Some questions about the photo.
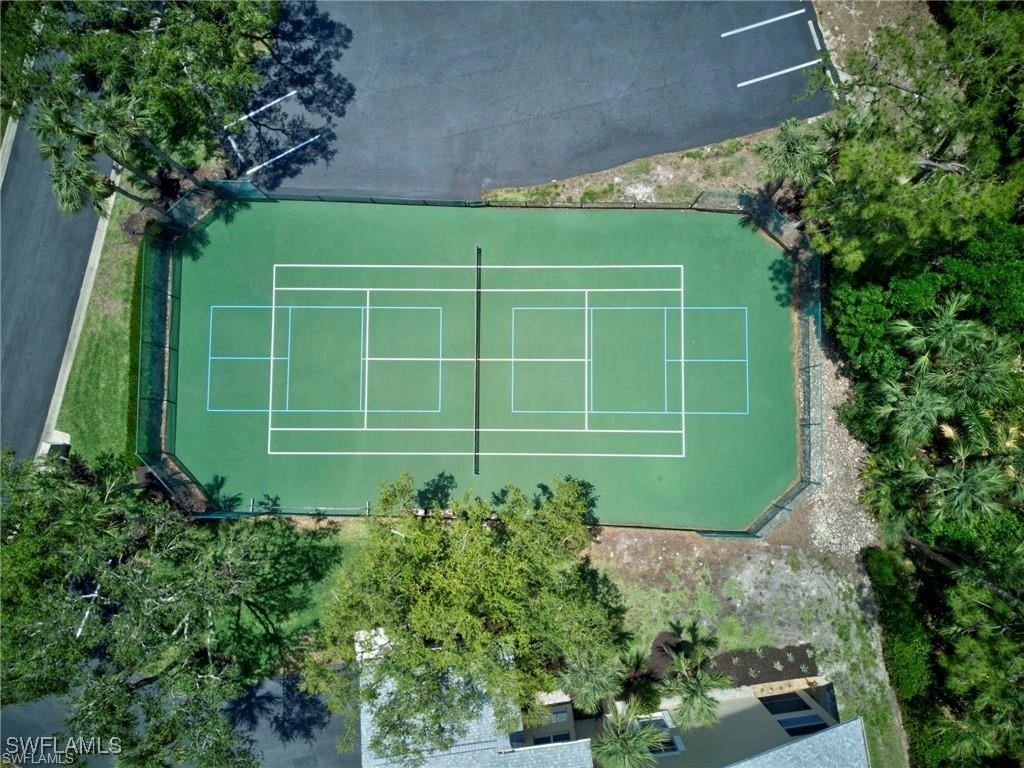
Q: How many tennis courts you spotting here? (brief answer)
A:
one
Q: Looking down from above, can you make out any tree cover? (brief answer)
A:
Yes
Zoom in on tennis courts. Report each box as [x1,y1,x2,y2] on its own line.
[165,201,799,530]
